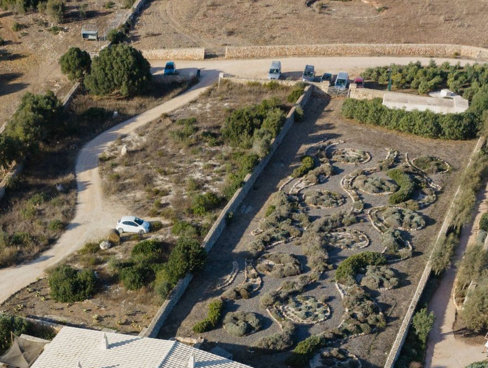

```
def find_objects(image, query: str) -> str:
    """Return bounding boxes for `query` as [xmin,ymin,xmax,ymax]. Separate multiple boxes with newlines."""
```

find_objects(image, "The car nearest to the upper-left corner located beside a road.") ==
[162,60,175,74]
